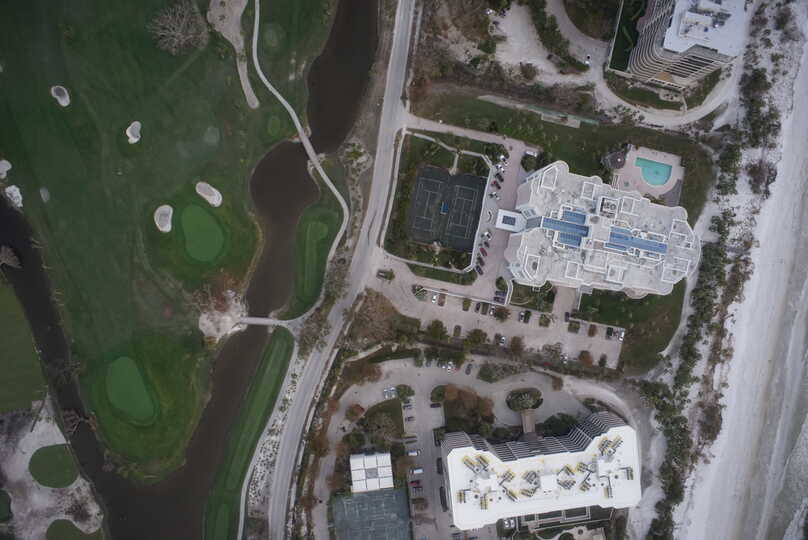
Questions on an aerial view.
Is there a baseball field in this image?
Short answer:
No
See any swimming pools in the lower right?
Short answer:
No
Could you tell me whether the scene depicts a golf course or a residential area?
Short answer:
golf course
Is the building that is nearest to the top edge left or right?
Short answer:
right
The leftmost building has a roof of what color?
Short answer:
white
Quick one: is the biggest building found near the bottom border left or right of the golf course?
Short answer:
to its right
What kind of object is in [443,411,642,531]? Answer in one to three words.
building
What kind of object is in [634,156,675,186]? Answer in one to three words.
swimming pool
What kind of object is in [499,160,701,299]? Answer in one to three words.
building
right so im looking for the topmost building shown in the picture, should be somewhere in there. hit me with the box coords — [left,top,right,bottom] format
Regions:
[630,0,746,79]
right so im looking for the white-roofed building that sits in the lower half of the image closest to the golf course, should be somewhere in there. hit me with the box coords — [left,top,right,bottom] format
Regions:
[350,452,394,493]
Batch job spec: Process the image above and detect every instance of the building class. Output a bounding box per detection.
[499,160,701,299]
[630,0,746,79]
[443,411,642,531]
[350,452,394,493]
